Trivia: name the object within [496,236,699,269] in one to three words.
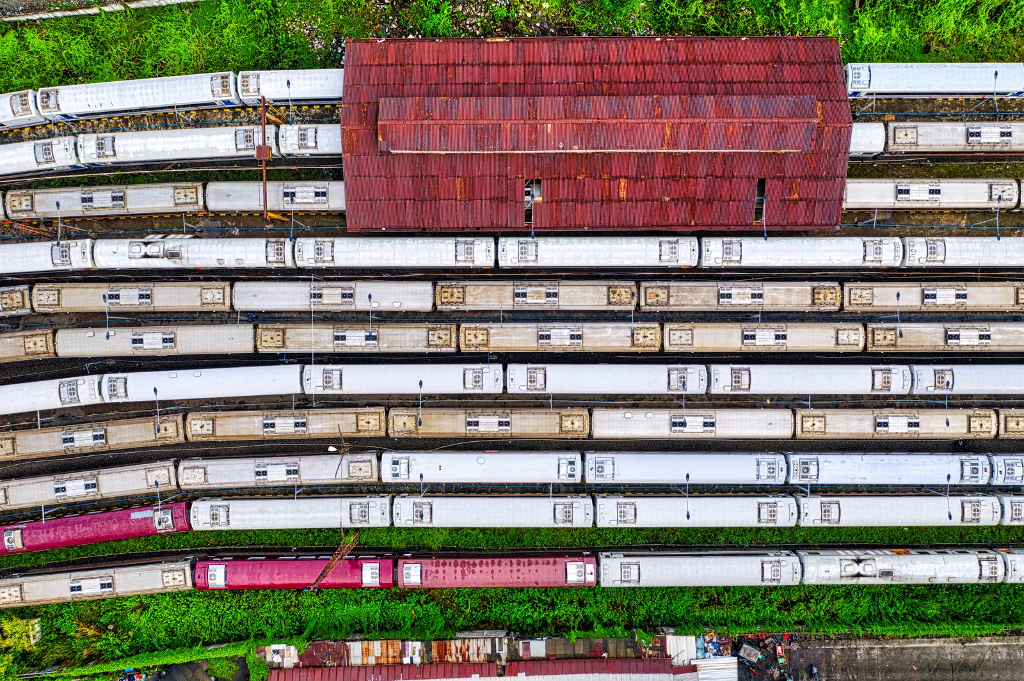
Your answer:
rail car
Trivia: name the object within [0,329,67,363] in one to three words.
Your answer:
rail car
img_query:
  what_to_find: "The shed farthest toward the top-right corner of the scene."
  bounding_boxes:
[341,37,850,232]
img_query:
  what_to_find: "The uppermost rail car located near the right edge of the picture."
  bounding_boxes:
[841,62,1024,100]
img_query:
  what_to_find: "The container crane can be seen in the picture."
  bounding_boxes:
[255,97,290,226]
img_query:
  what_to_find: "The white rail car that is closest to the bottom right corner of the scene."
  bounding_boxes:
[991,549,1024,584]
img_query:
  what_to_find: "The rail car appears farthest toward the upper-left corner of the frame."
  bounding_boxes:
[0,89,51,133]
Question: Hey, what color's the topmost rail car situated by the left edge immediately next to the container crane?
white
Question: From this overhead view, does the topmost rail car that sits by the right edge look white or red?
white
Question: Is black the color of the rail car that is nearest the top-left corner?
No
